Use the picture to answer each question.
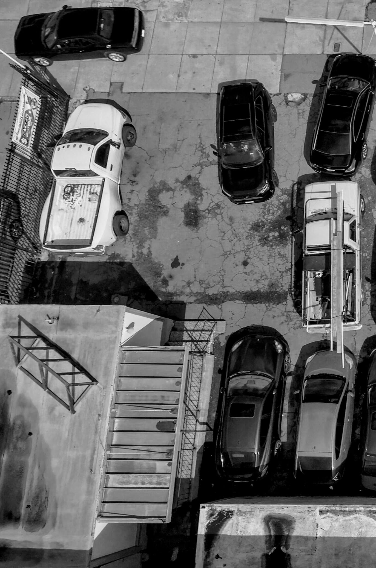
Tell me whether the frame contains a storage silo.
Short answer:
No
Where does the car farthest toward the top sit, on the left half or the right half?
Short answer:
left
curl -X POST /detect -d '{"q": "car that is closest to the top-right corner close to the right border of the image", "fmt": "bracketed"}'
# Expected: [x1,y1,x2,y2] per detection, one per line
[306,50,376,176]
